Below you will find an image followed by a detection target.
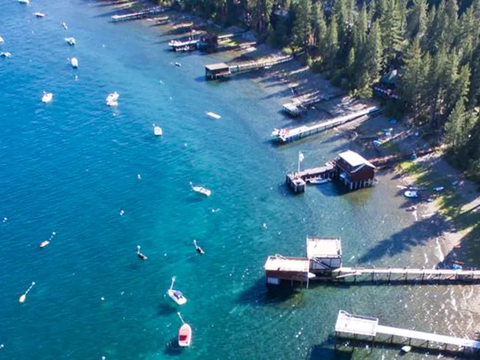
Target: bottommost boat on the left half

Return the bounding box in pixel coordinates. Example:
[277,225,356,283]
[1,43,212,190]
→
[178,322,192,351]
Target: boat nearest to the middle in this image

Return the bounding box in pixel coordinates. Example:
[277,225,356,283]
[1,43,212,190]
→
[192,185,213,197]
